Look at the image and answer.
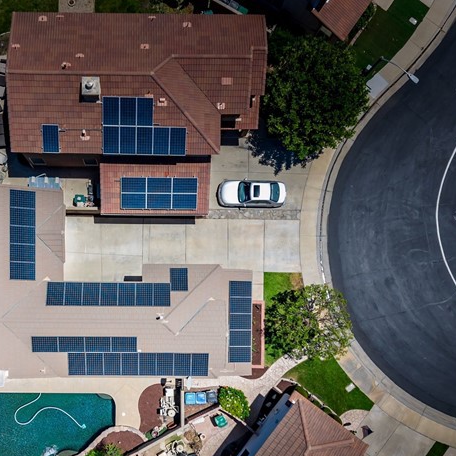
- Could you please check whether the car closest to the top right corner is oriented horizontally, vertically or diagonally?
horizontally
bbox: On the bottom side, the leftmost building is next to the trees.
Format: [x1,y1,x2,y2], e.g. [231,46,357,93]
[0,184,252,387]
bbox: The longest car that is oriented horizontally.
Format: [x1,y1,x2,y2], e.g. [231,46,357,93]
[217,177,286,209]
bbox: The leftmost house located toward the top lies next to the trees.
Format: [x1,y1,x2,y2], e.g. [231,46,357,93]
[5,10,268,217]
